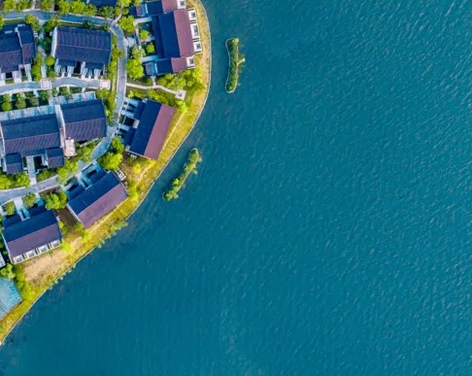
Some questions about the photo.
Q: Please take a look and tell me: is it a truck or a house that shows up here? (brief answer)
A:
house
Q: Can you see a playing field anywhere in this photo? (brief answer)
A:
No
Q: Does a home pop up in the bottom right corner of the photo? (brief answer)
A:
No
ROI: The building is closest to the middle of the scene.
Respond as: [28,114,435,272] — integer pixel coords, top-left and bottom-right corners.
[114,97,175,161]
